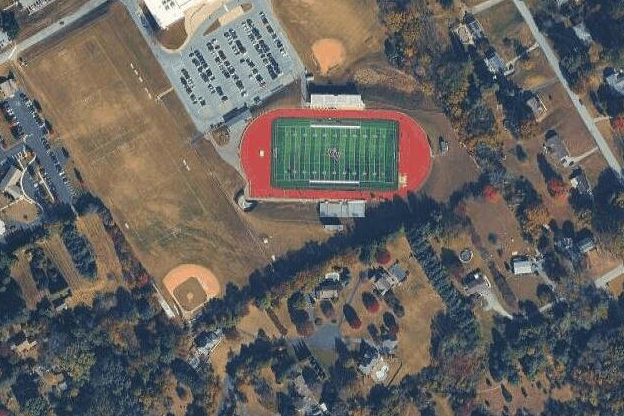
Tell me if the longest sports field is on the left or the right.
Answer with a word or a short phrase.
left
